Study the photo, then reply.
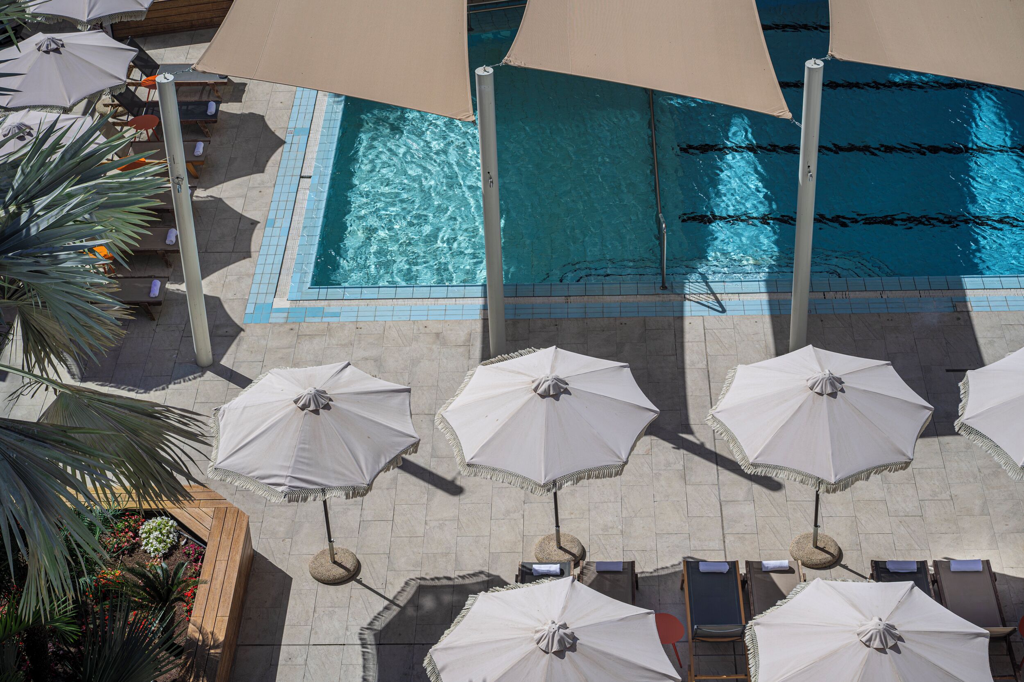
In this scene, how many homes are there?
0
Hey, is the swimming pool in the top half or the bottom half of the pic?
top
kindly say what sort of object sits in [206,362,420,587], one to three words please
umbrella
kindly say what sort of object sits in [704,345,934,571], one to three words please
umbrella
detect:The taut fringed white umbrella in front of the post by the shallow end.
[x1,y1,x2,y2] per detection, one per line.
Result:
[432,346,659,569]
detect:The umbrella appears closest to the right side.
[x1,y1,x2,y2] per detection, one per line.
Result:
[950,351,1024,481]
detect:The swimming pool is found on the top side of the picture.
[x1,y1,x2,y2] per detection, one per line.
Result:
[243,4,1024,323]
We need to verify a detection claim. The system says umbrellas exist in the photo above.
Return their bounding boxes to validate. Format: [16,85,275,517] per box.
[417,577,682,682]
[704,345,934,571]
[0,28,138,116]
[206,362,420,587]
[950,351,1024,481]
[21,0,161,35]
[432,346,659,569]
[741,578,994,682]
